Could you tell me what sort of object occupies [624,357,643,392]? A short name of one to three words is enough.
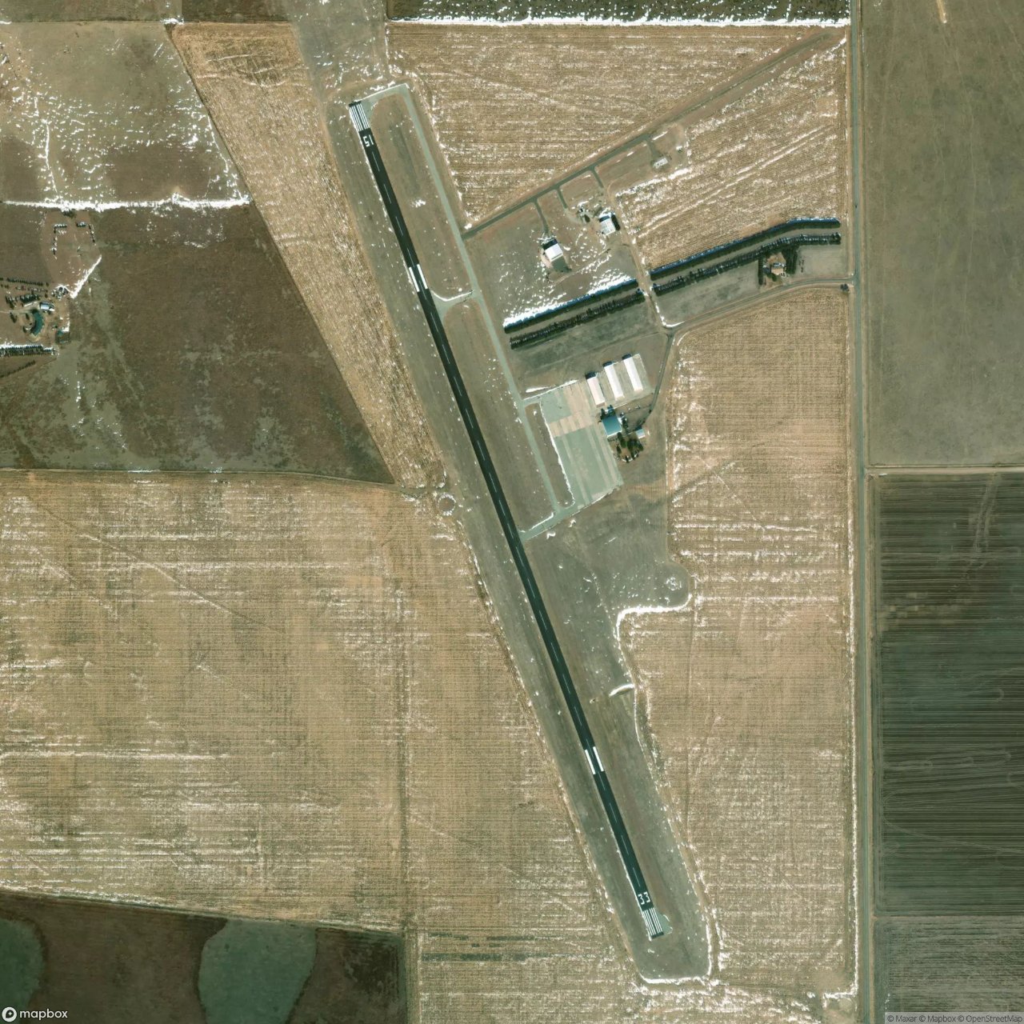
hangar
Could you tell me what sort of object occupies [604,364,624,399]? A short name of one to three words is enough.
hangar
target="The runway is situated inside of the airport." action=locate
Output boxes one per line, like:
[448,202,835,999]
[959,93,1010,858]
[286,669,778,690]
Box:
[349,101,664,939]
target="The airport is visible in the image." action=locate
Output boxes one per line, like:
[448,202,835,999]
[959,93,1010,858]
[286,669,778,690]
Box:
[349,83,671,939]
